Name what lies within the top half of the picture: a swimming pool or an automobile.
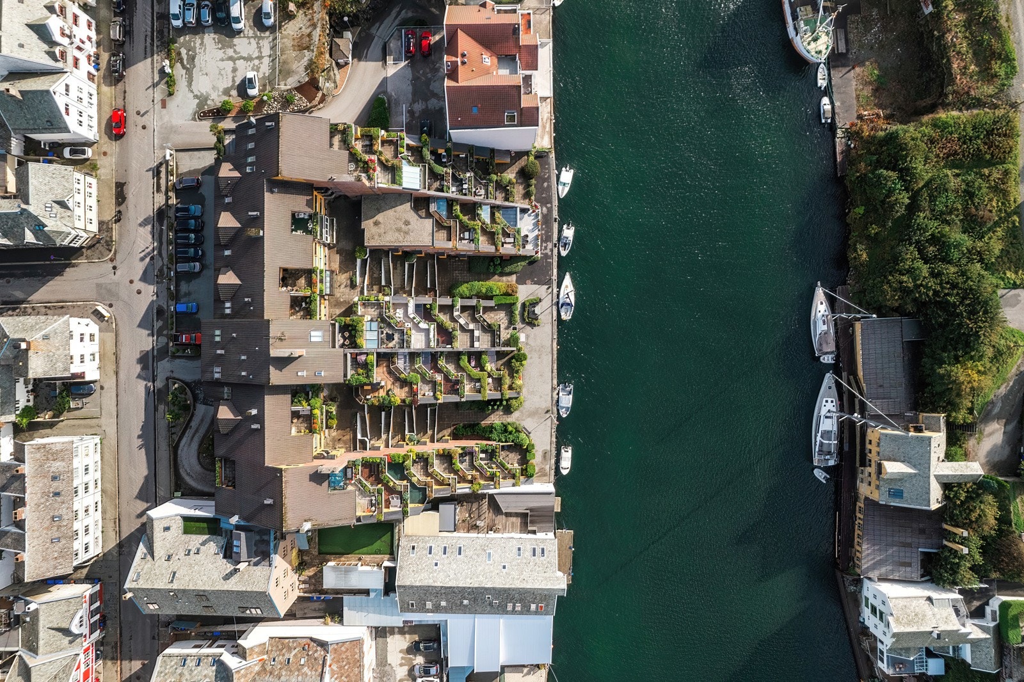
automobile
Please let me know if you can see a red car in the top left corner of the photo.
Yes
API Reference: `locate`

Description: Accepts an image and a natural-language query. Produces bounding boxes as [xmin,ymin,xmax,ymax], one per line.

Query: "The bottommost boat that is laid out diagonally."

[810,465,830,482]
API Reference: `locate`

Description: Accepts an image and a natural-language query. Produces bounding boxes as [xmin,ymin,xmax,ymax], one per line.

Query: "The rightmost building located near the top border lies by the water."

[444,0,552,147]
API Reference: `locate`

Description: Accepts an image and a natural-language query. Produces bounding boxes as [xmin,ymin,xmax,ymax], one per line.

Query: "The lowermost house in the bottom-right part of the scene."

[864,583,1001,674]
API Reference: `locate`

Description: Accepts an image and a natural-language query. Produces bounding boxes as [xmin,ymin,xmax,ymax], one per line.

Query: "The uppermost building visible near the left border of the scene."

[0,0,97,87]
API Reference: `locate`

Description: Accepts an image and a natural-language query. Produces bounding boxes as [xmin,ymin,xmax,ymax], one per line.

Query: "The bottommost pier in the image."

[555,530,573,583]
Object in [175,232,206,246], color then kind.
black car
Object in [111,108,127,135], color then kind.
red car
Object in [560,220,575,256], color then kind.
white boat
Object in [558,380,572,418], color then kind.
white boat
